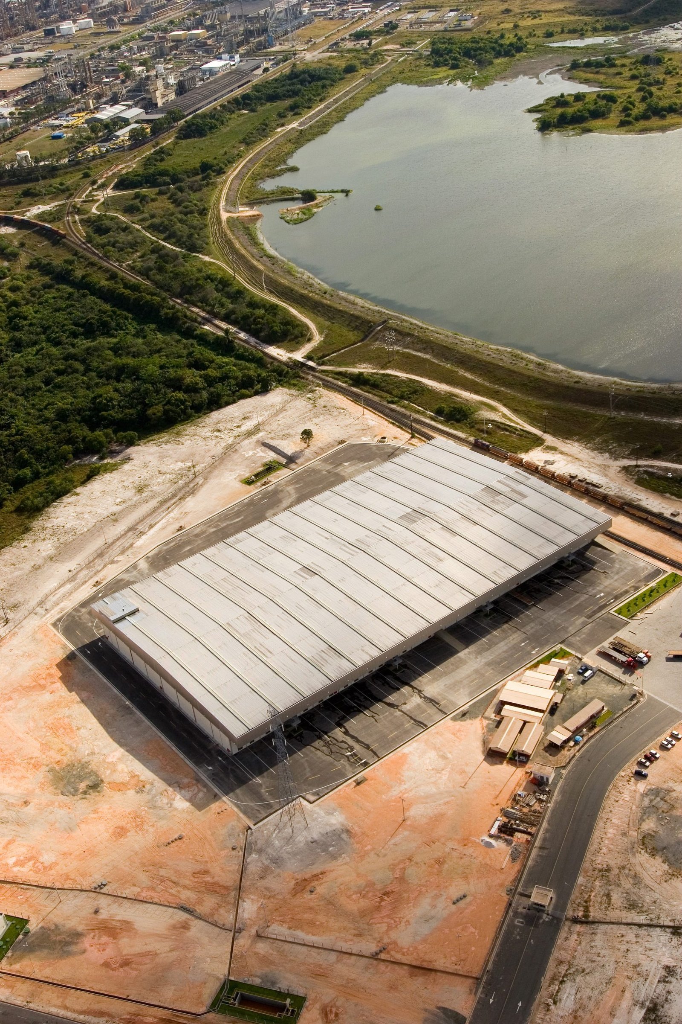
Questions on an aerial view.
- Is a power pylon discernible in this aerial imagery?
Yes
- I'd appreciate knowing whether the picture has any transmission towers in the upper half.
No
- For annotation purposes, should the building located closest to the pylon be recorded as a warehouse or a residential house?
warehouse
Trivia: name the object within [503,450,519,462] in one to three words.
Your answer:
rail car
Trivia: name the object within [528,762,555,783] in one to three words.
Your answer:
building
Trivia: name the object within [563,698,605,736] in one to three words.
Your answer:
shed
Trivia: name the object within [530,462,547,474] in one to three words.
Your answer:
rail car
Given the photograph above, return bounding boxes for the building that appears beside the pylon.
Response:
[90,437,622,754]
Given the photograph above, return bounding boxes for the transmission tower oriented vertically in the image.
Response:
[268,708,307,833]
